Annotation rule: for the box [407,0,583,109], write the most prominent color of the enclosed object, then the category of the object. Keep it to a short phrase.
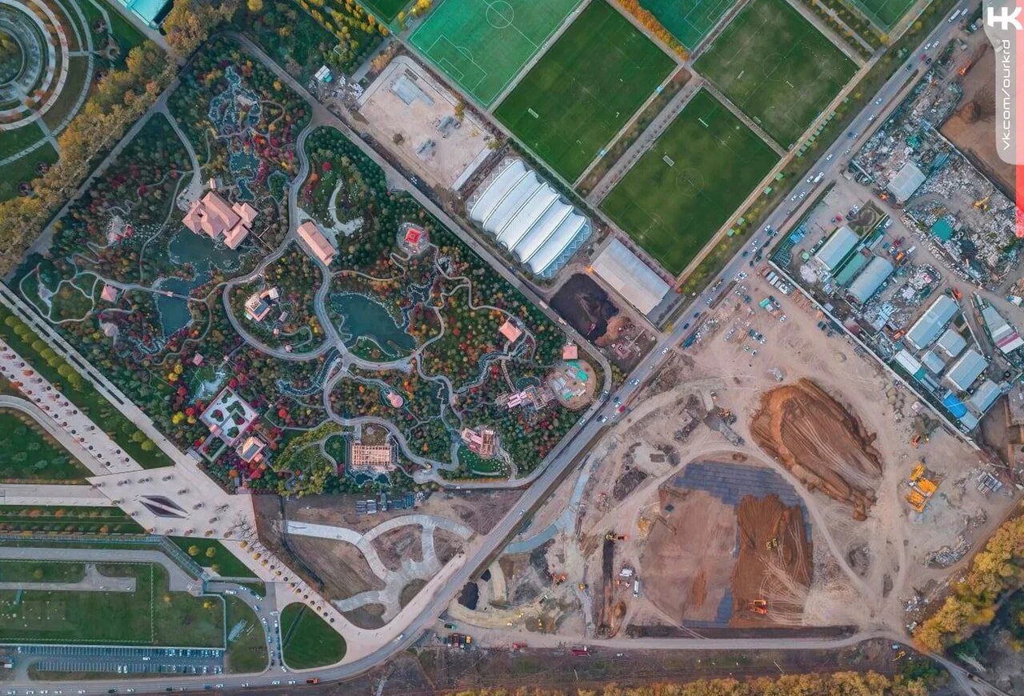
green soccer field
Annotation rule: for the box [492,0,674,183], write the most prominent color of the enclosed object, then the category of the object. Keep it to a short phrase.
green soccer field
